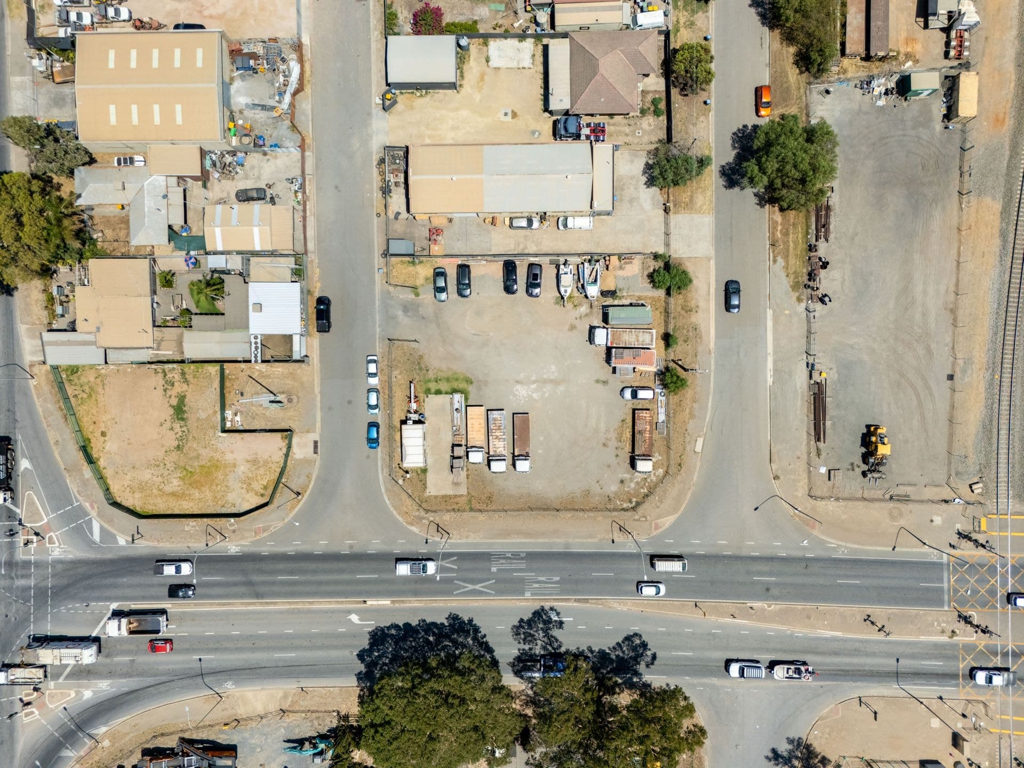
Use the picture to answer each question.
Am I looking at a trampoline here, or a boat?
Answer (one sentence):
It is a boat that can be seen here.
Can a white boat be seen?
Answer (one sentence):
Yes, the frame does contain a white boat.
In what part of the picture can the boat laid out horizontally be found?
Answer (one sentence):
The boat laid out horizontally is in the bottom right part of the image.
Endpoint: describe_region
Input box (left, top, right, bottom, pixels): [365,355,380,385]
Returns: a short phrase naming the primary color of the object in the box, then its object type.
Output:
white car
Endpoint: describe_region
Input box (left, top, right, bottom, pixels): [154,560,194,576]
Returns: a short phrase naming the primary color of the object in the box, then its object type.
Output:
white vehicle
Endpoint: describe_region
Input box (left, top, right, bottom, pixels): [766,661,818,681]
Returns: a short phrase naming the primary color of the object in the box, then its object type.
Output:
white boat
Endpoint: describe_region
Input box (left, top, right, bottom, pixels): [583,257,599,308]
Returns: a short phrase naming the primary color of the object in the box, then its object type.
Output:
white boat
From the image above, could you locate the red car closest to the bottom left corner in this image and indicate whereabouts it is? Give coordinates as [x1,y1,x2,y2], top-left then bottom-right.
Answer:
[149,638,175,654]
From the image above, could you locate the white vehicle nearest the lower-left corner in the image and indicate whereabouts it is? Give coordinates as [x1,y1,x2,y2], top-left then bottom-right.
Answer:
[0,665,49,687]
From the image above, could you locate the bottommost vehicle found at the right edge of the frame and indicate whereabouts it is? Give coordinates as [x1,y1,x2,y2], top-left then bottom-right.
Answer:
[969,667,1012,686]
